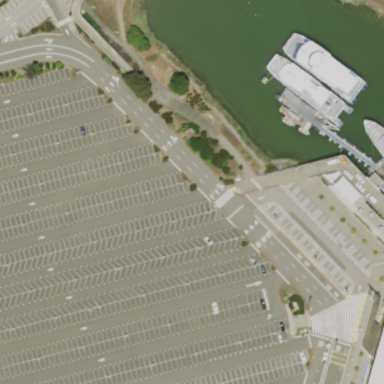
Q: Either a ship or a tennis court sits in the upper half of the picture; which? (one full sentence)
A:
What appears in the upper half of the picture is a ship.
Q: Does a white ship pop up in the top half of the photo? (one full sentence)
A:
Yes, the scene does show a white ship in the top half of the photo.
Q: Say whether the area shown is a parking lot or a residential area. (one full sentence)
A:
What you see here is a parking lot.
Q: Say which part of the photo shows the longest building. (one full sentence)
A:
The longest building appears toward the right of the photo.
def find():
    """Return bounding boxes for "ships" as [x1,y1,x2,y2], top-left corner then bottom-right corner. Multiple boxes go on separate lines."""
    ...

[364,119,384,158]
[283,32,366,102]
[266,54,354,130]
